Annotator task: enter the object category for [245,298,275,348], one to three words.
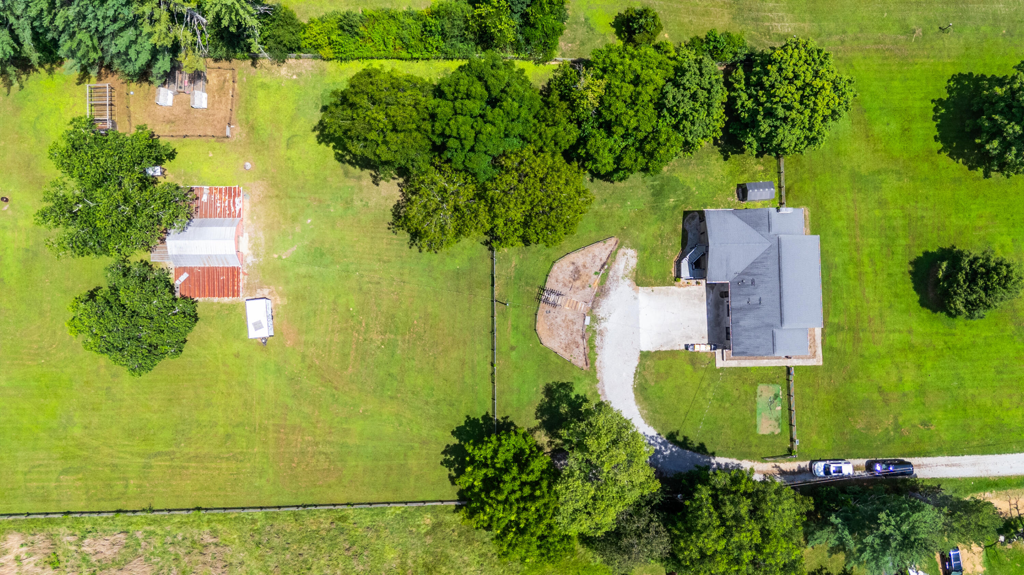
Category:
trailer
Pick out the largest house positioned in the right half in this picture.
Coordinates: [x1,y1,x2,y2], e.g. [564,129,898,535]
[698,203,821,357]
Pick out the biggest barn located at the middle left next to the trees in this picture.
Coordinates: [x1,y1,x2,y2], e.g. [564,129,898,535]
[150,185,245,298]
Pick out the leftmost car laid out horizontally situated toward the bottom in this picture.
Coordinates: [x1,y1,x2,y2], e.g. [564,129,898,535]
[811,460,855,480]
